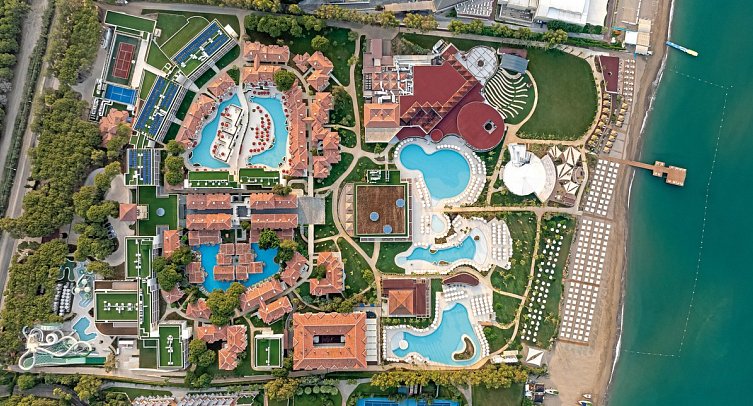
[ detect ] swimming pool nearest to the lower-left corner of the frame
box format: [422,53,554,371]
[23,352,66,367]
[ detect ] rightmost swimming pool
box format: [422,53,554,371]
[471,228,488,266]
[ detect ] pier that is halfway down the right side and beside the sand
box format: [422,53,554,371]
[611,156,687,186]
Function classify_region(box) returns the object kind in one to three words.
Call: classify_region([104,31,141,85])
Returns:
tennis court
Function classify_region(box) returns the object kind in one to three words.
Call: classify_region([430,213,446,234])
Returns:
swimming pool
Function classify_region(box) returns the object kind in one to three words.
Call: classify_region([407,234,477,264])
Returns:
swimming pool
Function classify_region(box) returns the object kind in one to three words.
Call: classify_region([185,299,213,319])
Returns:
house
